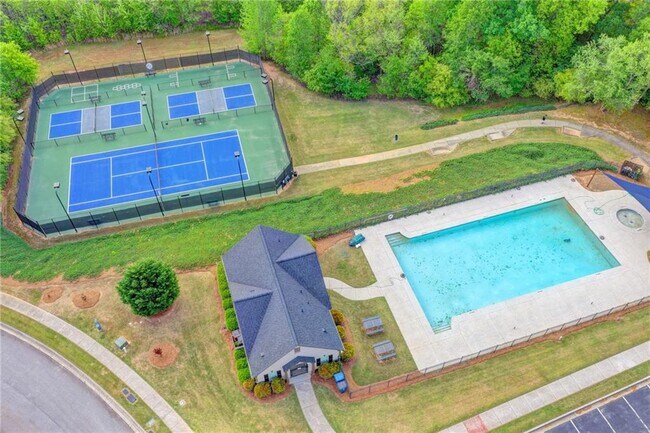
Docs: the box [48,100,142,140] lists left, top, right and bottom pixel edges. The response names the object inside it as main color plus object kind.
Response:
blue sports court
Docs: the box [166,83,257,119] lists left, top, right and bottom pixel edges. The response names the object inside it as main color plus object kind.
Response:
blue sports court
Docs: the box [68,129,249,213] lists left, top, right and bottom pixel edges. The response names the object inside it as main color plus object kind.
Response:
blue tennis court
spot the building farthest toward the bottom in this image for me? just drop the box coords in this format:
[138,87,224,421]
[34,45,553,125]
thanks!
[219,226,346,389]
